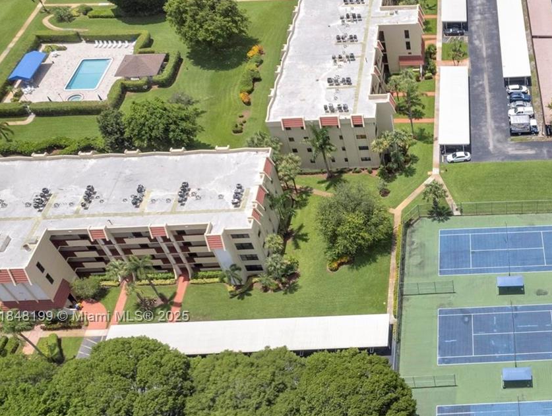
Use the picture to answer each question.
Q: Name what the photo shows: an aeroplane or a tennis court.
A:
tennis court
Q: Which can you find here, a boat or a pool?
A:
pool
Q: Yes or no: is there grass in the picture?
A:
Yes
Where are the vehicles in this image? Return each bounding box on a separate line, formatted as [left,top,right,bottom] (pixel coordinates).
[508,107,536,118]
[447,151,472,163]
[537,127,552,138]
[509,100,529,110]
[508,114,539,132]
[444,25,464,35]
[507,84,528,95]
[509,94,531,103]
